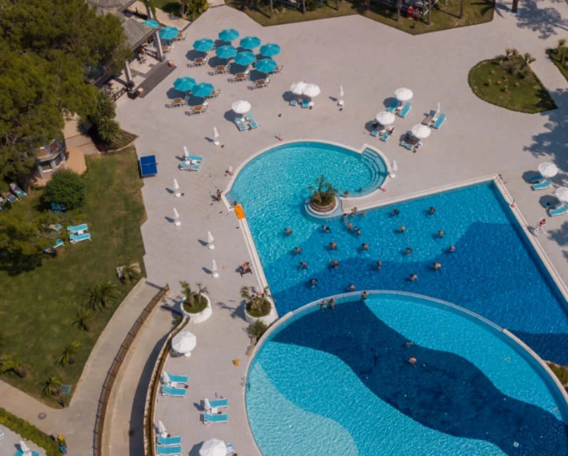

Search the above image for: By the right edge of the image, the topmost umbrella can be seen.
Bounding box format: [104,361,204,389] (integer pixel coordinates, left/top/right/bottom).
[537,165,558,181]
